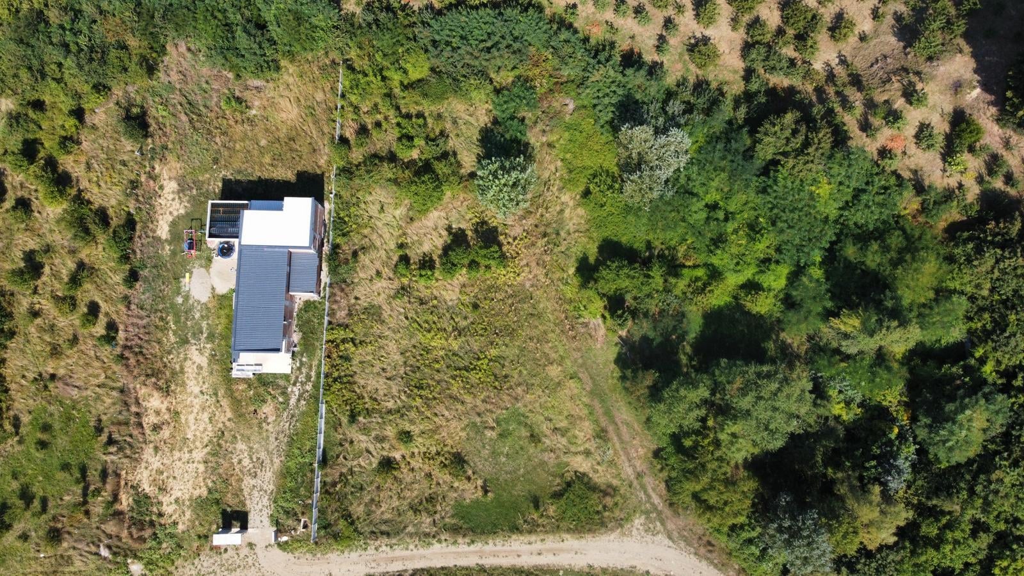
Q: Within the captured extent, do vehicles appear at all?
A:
No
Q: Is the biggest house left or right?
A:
left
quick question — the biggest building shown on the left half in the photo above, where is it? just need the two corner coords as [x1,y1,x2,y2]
[206,197,326,374]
